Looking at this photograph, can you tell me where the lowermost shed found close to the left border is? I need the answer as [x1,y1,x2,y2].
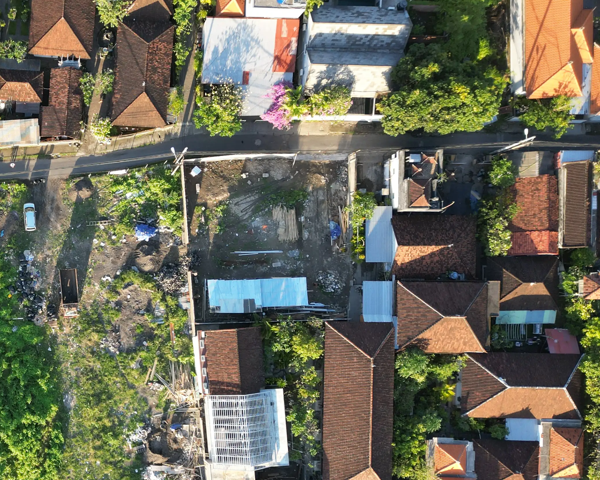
[0,121,40,145]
